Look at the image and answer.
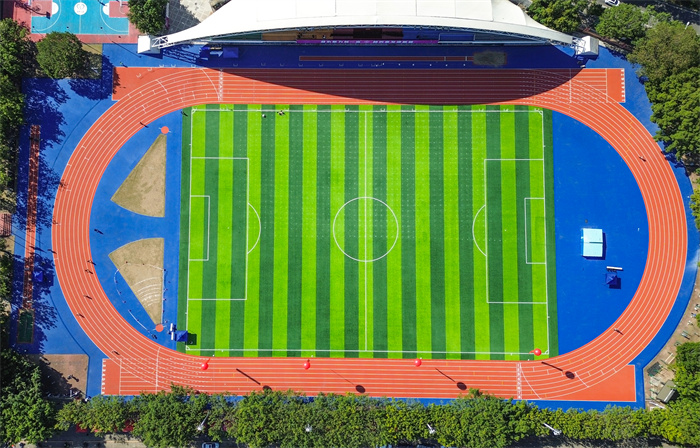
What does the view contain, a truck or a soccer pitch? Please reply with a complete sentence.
The one in the frame is a soccer pitch.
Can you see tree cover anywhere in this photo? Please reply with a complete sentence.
Yes, tree cover can be seen from above here.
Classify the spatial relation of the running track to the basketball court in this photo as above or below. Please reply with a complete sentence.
Relative to the basketball court, the running track lies below it.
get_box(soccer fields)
[176,103,558,360]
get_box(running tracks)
[53,67,688,401]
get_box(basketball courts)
[12,0,140,43]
